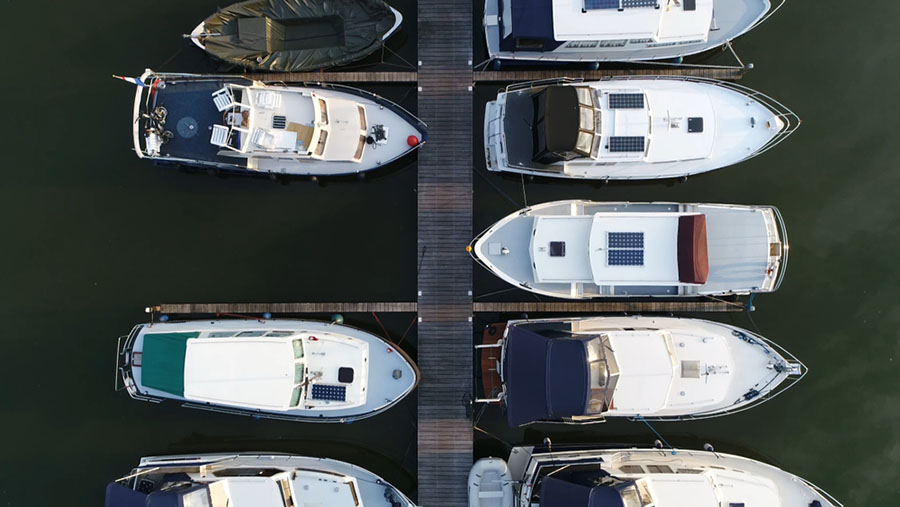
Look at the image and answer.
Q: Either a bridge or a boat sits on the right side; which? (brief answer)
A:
boat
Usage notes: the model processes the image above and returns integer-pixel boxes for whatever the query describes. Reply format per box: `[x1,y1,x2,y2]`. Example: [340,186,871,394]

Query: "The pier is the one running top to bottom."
[415,0,476,507]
